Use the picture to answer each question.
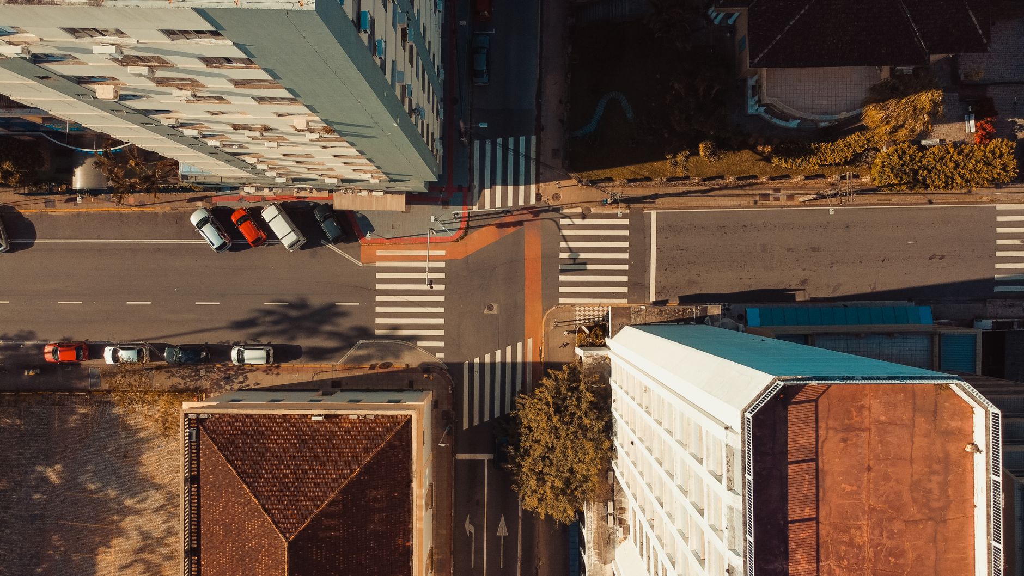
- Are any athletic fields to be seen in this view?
No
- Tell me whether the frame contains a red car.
Yes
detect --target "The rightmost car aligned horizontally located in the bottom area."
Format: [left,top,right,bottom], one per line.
[231,345,275,367]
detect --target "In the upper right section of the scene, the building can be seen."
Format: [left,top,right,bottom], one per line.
[704,0,993,133]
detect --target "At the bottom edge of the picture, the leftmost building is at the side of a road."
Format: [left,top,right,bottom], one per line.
[180,392,435,576]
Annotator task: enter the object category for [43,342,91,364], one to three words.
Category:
car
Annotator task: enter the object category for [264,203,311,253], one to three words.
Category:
vehicle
